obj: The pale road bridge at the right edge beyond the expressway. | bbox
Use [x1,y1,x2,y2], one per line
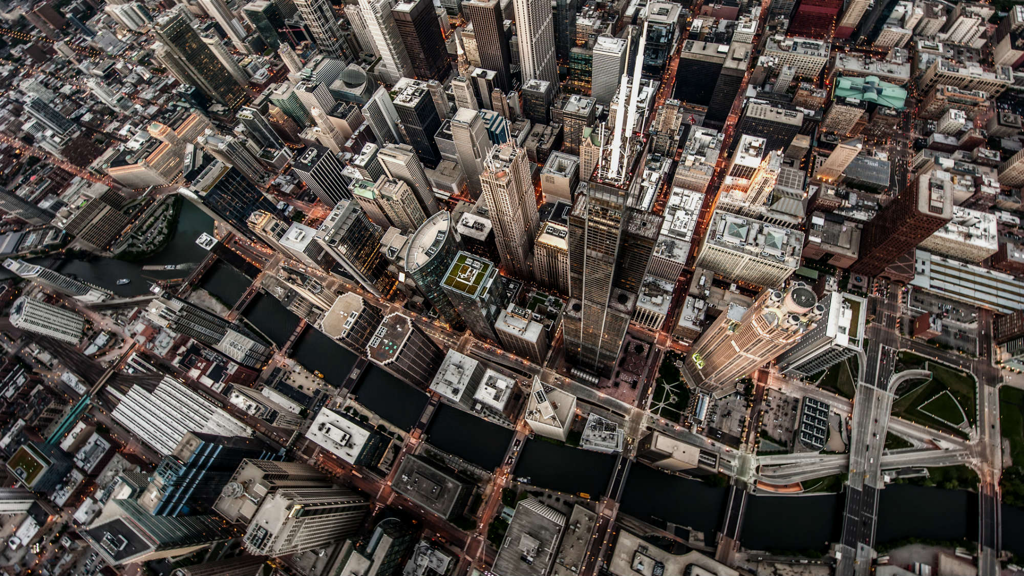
[965,489,1004,553]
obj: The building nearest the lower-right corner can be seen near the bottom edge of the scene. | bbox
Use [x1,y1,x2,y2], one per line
[931,542,980,576]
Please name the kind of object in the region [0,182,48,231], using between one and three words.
building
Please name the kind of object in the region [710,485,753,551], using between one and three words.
bridge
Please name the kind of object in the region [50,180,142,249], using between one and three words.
building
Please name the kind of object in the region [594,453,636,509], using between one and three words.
bridge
